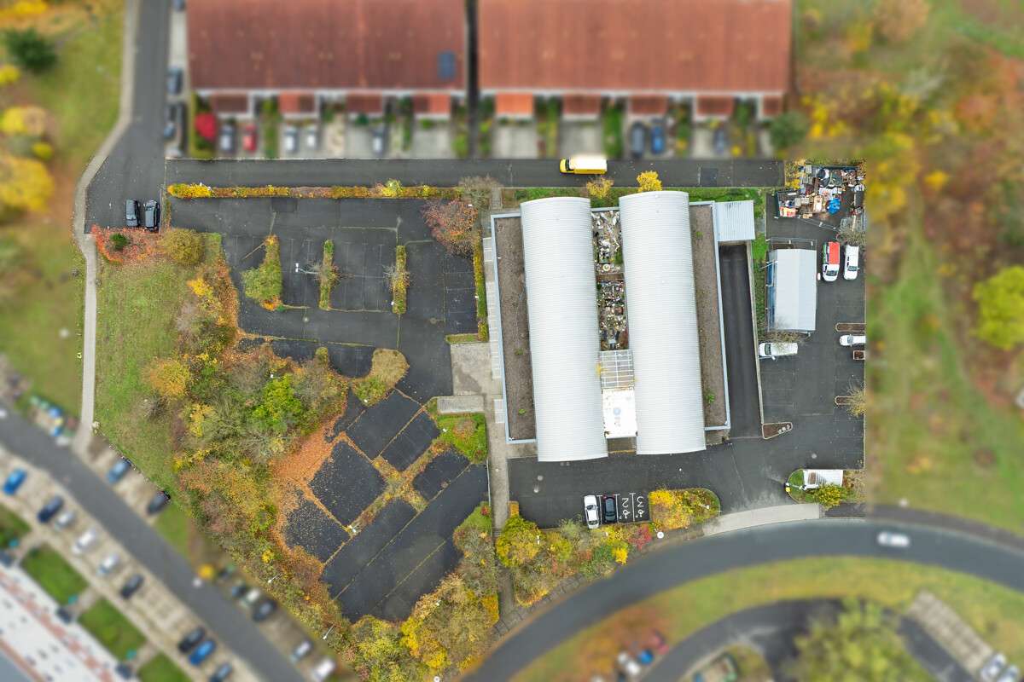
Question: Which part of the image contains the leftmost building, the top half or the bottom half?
bottom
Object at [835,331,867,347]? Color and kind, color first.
white vehicle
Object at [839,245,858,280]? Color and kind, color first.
white vehicle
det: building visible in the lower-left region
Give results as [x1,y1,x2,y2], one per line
[0,556,138,682]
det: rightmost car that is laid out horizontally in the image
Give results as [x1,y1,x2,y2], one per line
[876,531,910,547]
